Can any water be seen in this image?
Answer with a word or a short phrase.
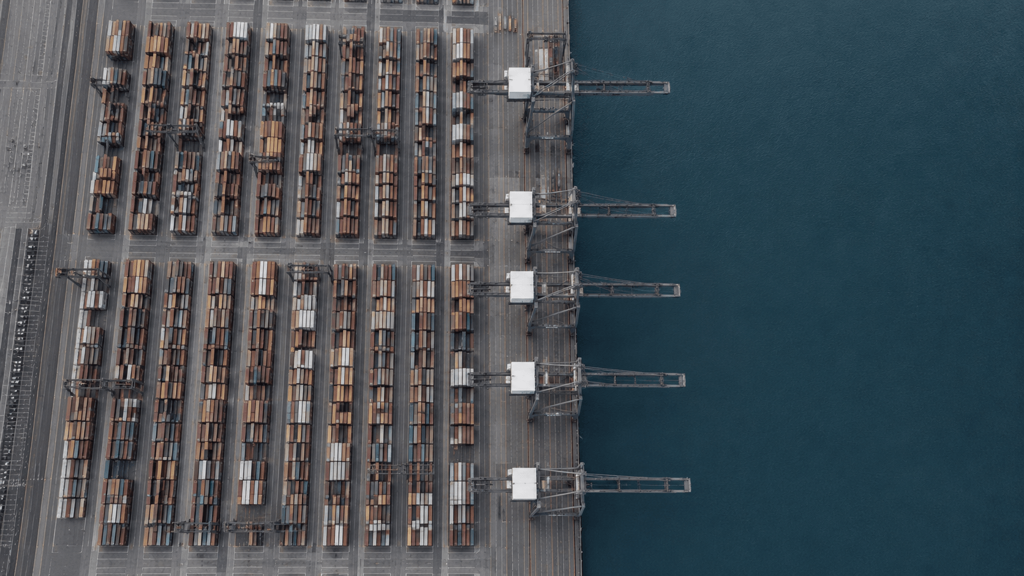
Yes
